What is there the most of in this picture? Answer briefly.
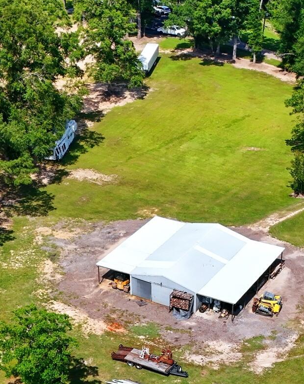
grass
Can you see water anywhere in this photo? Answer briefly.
No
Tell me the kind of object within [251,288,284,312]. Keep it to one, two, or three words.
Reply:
work vehicle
